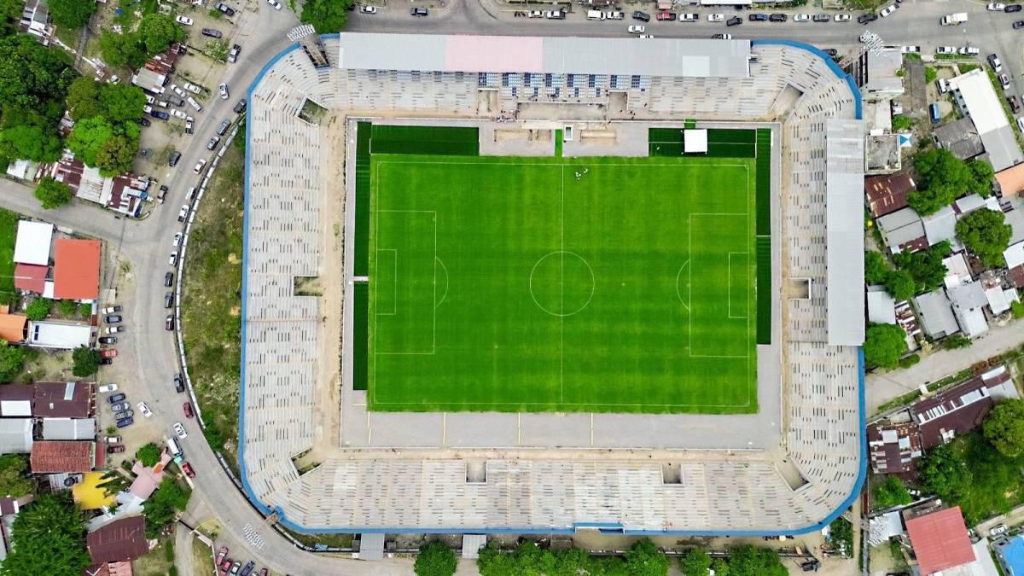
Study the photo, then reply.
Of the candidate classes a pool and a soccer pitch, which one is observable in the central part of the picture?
soccer pitch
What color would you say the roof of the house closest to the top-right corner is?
white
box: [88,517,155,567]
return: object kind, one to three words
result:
house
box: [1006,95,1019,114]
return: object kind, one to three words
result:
vehicle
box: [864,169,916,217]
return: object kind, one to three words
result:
house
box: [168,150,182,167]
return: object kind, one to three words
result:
car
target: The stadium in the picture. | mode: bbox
[238,31,867,535]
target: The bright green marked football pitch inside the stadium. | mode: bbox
[367,154,758,414]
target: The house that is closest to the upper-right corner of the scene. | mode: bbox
[949,72,1008,135]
